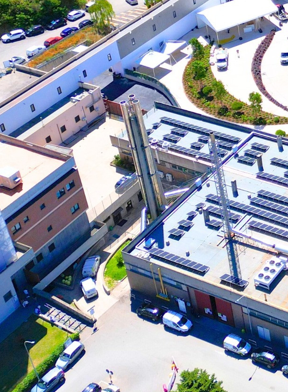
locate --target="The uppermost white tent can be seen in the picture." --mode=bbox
[197,0,279,45]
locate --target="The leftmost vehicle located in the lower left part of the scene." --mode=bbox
[32,366,67,392]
